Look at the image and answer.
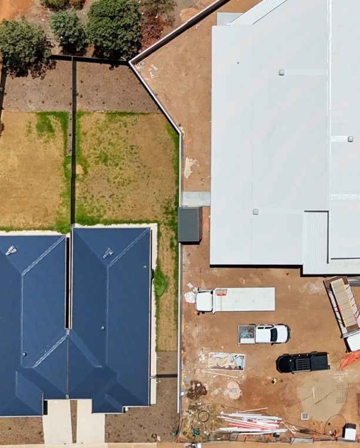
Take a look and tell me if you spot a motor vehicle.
Yes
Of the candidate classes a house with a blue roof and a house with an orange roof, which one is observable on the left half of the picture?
house with a blue roof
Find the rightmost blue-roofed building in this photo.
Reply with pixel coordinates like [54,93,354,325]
[67,226,152,414]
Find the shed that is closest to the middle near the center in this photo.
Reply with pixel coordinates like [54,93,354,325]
[177,207,202,242]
